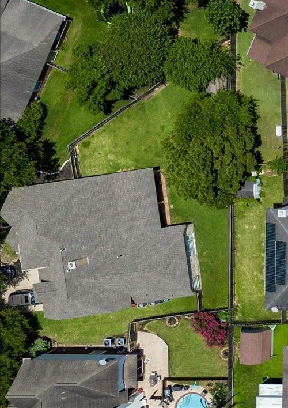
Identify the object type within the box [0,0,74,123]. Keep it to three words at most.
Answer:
house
